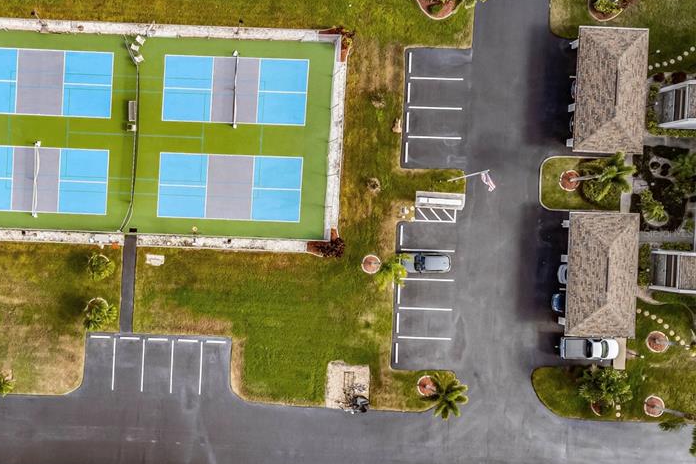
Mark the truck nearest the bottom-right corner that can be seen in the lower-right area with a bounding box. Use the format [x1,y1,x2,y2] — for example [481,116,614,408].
[554,336,620,364]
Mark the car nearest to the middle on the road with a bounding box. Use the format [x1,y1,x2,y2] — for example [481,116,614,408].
[402,250,449,275]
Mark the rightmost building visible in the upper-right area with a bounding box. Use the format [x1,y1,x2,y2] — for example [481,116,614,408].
[658,84,696,129]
